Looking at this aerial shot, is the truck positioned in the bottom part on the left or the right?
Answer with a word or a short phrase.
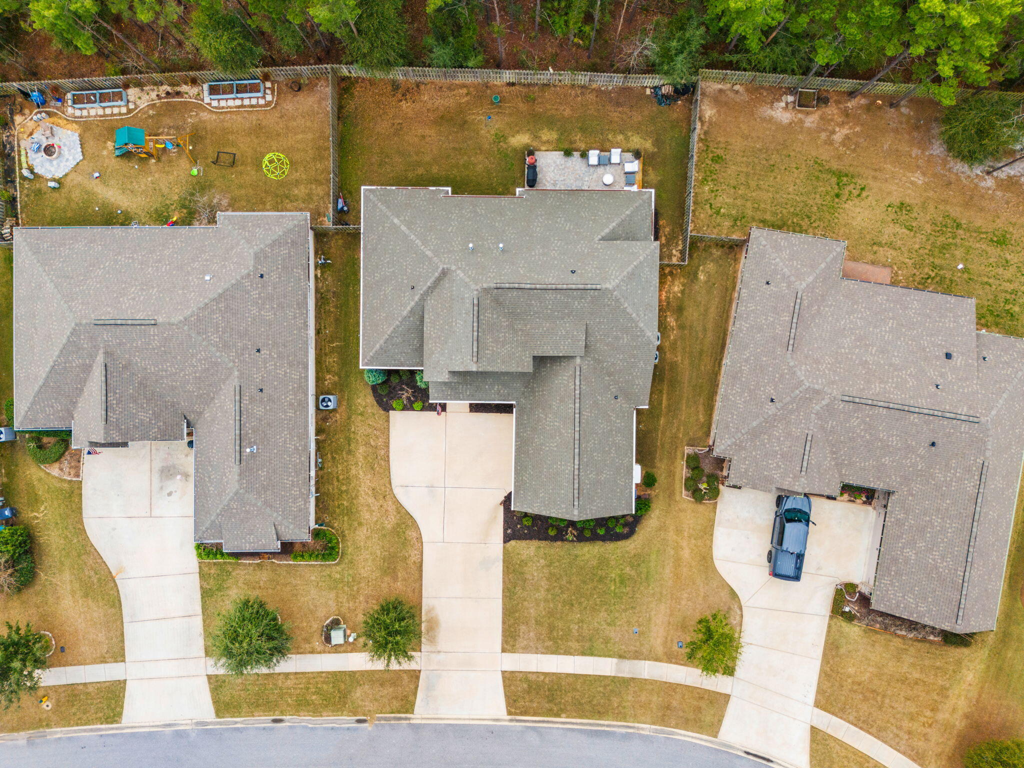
right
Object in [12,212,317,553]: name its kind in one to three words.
house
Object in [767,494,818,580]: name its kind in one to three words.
truck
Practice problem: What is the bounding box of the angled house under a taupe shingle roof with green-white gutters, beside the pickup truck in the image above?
[706,227,1024,634]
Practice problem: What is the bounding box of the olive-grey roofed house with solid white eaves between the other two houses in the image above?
[360,186,660,521]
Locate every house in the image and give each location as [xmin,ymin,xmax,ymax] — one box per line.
[12,212,317,553]
[706,227,1024,634]
[360,186,660,521]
